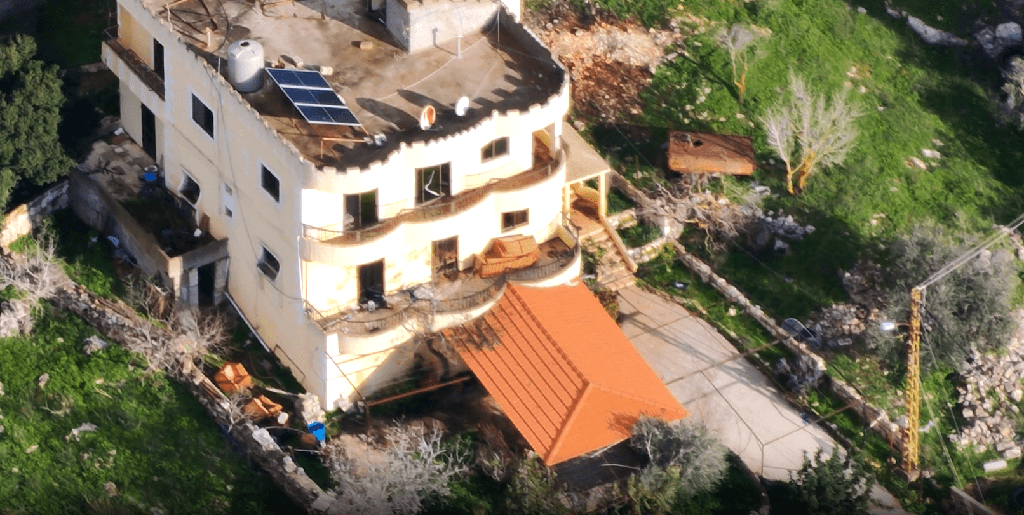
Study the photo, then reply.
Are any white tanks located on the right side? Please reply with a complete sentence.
No, no white tank appears on the right side.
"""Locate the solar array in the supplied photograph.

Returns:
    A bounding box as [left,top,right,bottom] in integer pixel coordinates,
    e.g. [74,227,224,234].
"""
[264,67,369,154]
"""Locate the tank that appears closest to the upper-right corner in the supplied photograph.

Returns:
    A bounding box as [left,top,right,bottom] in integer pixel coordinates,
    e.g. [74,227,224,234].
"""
[668,134,753,177]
